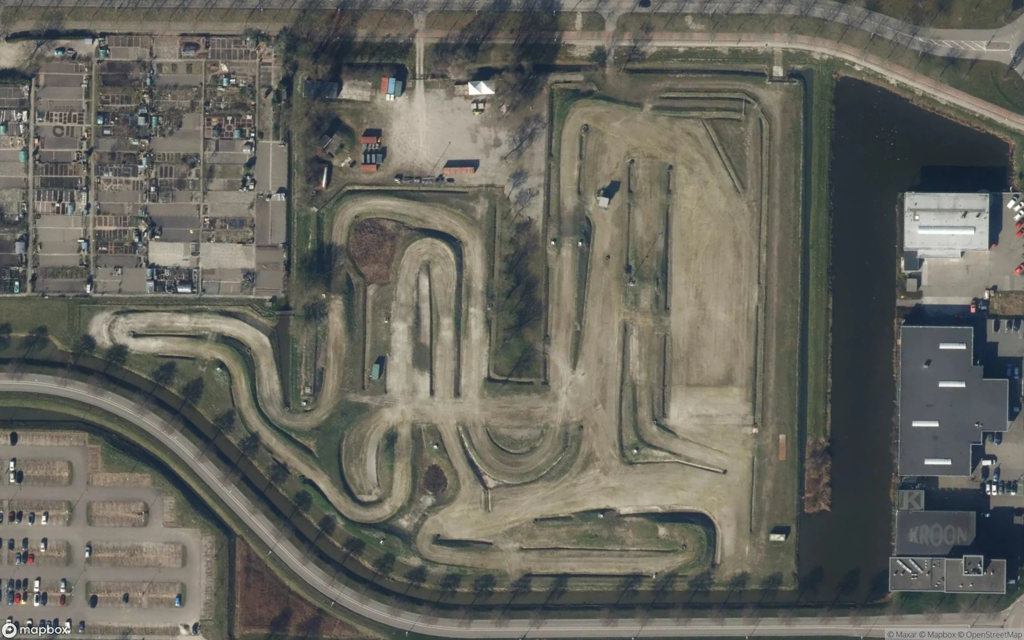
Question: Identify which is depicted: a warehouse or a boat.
warehouse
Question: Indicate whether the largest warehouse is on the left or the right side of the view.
right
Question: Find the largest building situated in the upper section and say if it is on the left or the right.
right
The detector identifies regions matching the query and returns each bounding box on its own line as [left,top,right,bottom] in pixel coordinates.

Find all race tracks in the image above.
[87,92,771,576]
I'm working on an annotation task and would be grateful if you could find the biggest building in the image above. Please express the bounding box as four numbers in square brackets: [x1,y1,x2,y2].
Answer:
[898,325,1008,476]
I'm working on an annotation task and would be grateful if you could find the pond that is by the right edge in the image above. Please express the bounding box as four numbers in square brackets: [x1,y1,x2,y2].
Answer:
[797,76,1009,604]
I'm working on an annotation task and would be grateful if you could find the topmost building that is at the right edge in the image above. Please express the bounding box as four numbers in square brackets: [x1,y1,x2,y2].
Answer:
[903,191,989,271]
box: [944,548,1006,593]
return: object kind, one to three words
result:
building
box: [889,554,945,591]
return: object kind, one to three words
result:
building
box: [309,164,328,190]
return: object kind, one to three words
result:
barn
